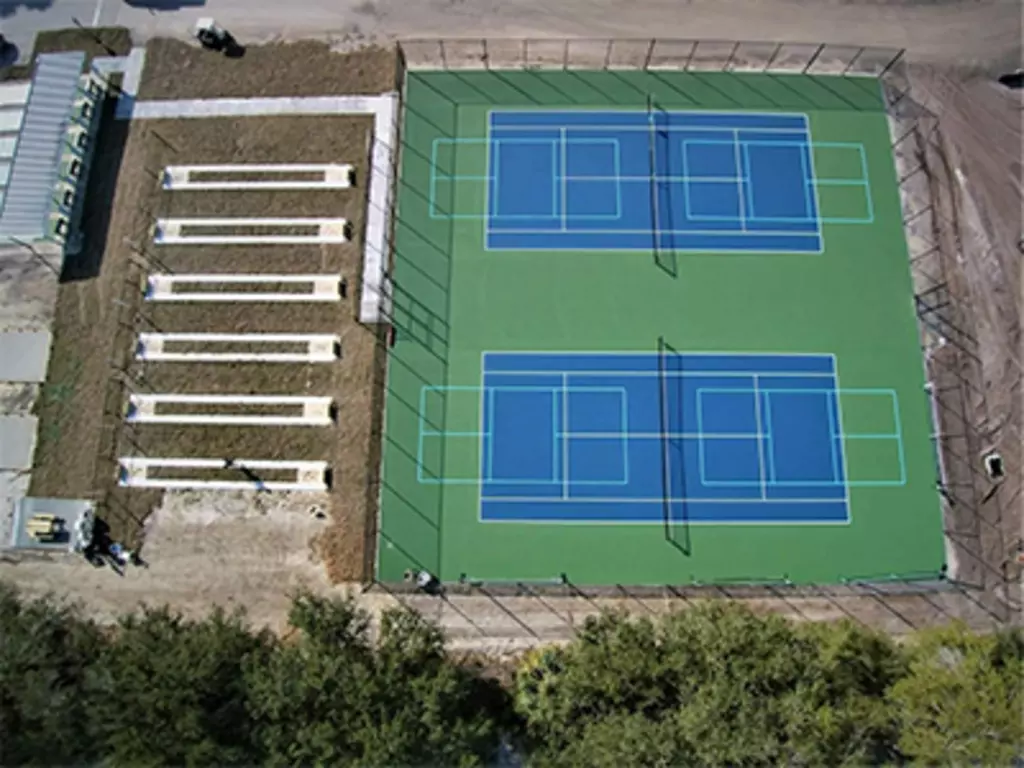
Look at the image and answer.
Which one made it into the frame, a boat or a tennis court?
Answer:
tennis court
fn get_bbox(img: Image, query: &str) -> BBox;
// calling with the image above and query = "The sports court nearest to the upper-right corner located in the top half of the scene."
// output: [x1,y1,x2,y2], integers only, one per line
[683,141,874,221]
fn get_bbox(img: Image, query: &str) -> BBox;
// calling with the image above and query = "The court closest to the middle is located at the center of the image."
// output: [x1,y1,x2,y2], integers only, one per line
[419,387,628,483]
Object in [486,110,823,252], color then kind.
blue tennis court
